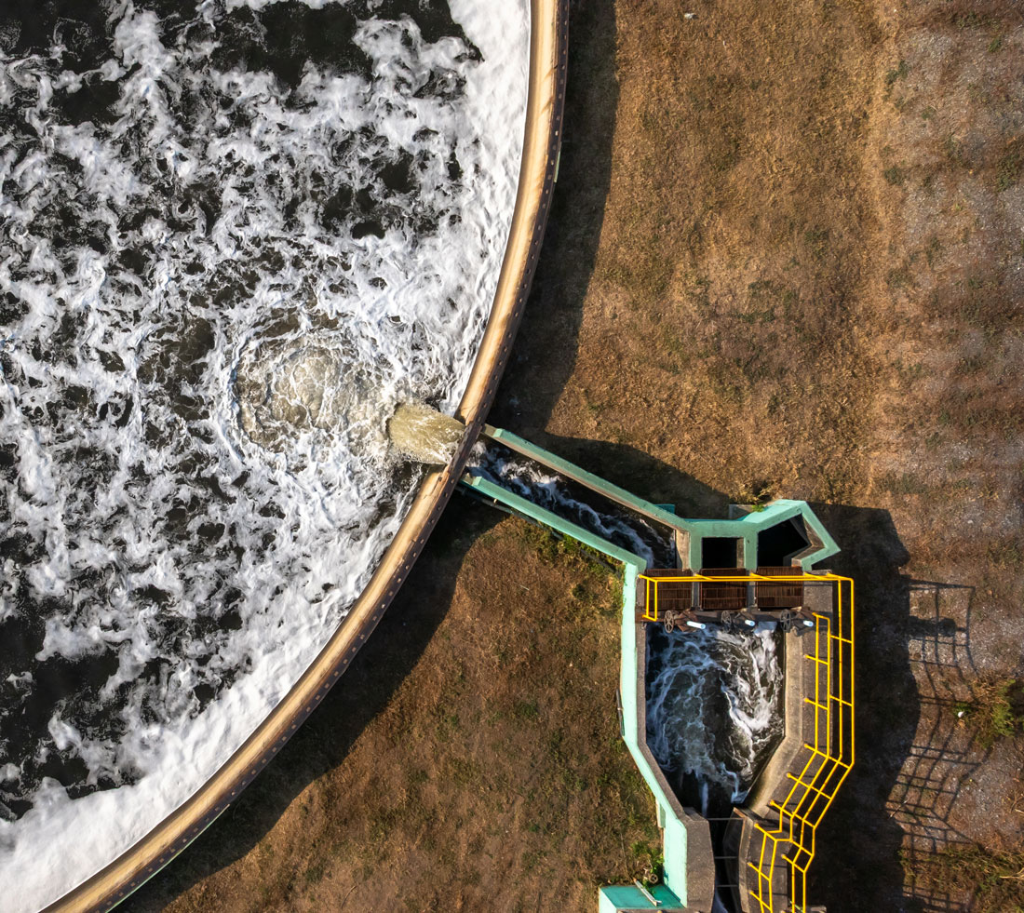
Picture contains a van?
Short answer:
No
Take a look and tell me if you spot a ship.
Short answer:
No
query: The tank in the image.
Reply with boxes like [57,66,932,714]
[34,0,571,913]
